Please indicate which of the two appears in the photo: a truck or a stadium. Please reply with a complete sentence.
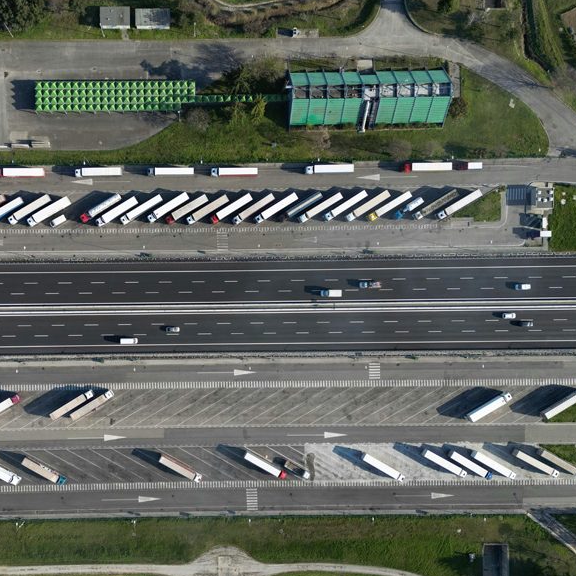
I can see a truck in this picture.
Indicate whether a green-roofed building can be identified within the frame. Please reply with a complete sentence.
Yes, looking at the shot, I can spot a green-roofed building.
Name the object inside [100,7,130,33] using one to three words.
shed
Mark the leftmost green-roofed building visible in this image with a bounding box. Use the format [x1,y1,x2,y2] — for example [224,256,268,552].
[285,69,447,131]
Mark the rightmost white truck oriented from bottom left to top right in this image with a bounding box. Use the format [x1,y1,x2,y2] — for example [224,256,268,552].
[540,390,576,420]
